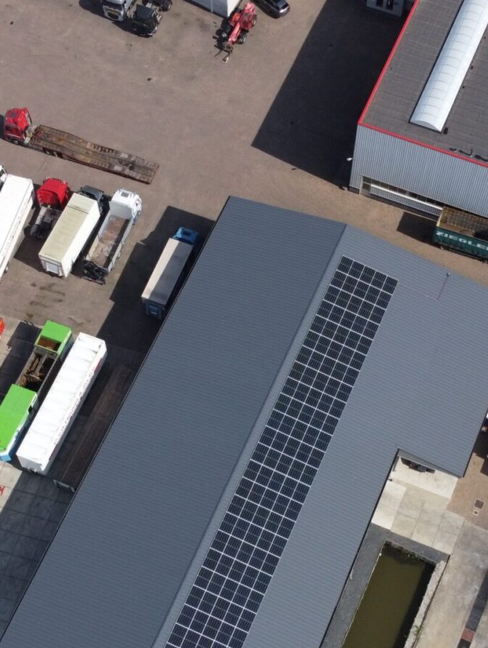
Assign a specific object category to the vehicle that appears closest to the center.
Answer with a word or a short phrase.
truck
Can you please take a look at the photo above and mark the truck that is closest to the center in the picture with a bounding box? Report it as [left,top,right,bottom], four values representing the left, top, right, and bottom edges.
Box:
[141,229,205,319]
